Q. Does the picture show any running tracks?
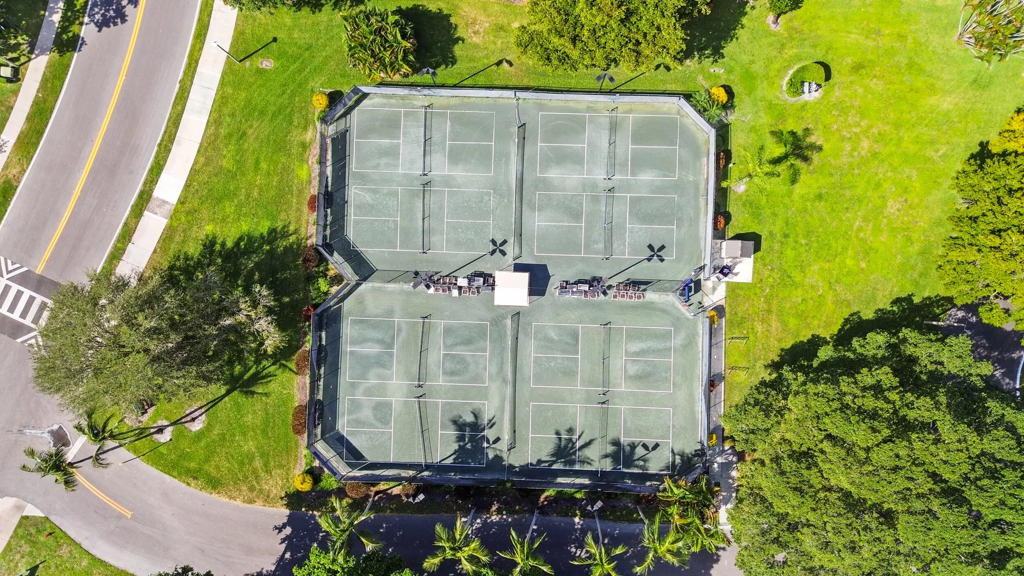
No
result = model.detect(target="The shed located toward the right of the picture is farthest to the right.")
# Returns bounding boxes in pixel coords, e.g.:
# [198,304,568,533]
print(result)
[719,239,755,260]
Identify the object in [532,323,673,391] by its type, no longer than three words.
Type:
sports court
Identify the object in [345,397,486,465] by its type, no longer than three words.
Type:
sports court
